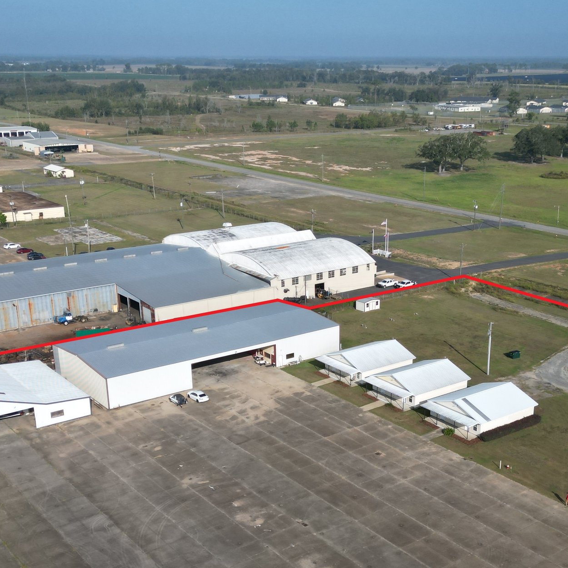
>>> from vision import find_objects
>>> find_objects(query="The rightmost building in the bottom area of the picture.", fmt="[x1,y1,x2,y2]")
[417,381,536,440]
